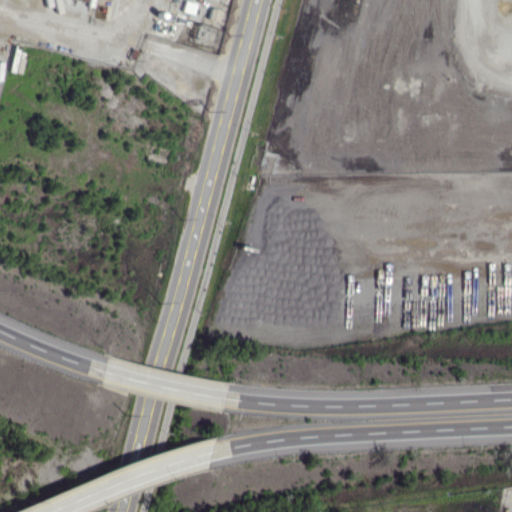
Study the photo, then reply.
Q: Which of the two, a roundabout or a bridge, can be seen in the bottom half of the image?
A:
bridge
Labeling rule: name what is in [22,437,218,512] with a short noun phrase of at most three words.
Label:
bridge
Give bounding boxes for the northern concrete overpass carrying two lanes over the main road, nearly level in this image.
[100,358,233,415]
